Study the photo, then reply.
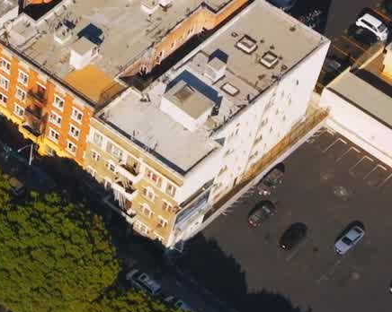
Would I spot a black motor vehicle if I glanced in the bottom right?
Yes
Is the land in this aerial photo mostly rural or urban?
urban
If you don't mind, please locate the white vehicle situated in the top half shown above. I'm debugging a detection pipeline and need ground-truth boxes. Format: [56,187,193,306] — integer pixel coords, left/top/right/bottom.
[358,10,389,40]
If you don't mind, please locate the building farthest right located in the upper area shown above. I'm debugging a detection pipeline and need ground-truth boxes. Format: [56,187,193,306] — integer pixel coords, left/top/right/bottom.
[312,68,392,169]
